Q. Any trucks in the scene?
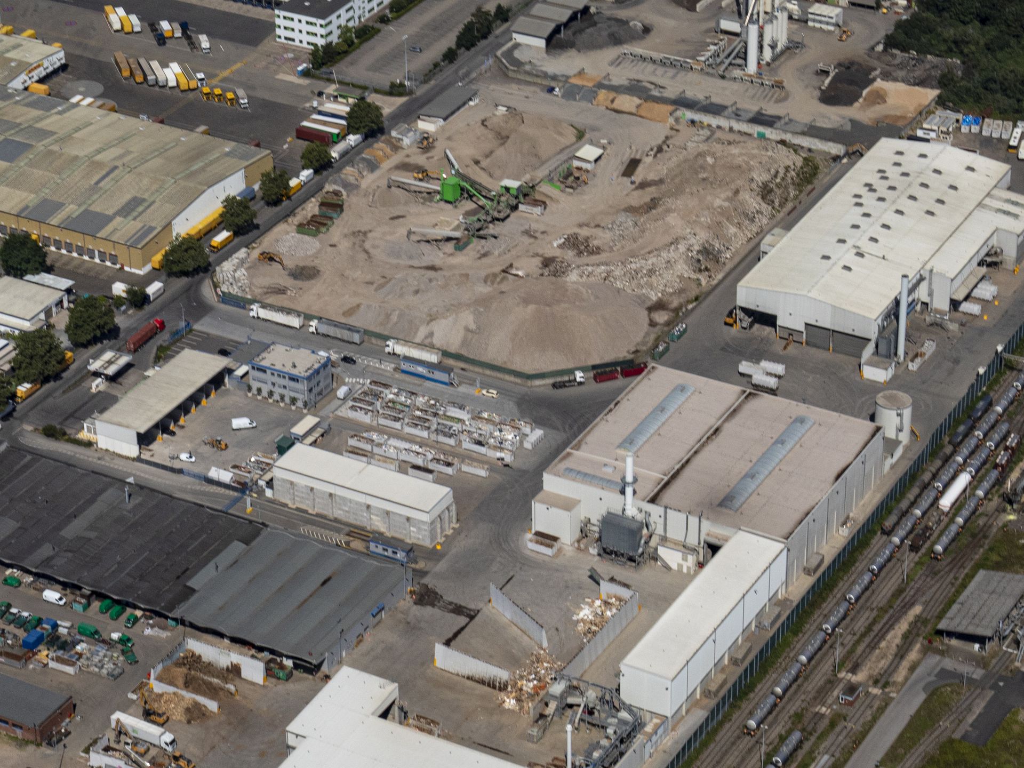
Yes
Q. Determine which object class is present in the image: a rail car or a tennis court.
rail car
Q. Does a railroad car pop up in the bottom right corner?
Yes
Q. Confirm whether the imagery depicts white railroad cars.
Yes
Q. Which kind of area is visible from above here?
industrial area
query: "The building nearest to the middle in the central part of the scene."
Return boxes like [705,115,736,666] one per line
[401,354,459,383]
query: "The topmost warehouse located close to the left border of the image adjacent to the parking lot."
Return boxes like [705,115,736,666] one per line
[0,87,270,274]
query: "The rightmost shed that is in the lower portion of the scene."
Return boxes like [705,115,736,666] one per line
[937,568,1020,656]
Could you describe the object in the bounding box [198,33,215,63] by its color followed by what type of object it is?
white vehicle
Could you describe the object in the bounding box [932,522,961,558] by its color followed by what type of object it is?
gray rail car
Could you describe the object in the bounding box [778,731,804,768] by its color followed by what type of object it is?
gray rail car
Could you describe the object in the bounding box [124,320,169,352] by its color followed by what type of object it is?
red truck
